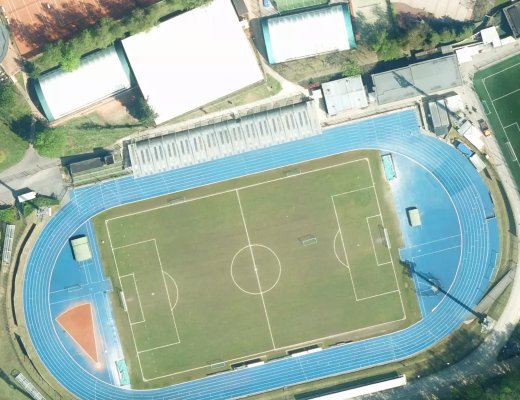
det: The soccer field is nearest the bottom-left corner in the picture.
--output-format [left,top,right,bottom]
[91,148,422,389]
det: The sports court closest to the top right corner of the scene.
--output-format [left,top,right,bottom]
[390,0,474,21]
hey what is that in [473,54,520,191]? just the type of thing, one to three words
soccer field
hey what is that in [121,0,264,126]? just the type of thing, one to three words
building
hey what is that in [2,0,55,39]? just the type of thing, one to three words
tennis court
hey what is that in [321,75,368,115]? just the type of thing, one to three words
building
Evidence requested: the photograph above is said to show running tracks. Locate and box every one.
[20,103,499,400]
